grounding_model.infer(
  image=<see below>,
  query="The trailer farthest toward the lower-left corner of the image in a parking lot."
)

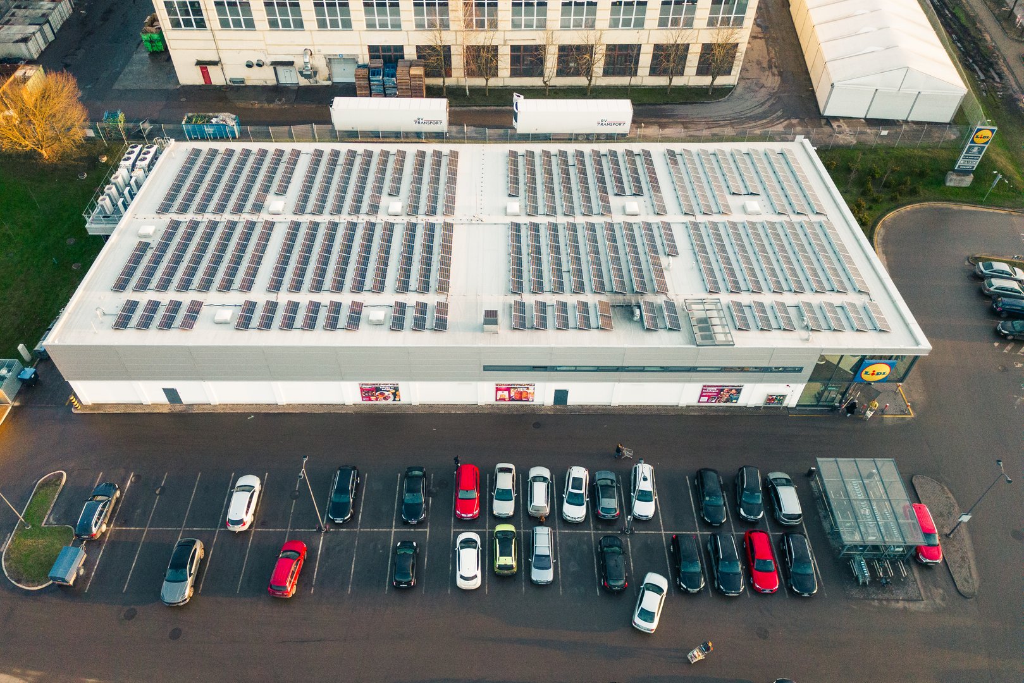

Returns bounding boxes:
[48,540,95,589]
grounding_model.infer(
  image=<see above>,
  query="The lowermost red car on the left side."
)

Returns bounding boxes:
[268,541,309,598]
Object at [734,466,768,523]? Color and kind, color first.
black car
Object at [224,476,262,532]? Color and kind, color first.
white car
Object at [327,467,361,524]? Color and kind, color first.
black car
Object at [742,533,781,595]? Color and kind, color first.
red car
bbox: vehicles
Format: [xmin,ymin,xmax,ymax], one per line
[527,529,558,586]
[159,540,204,607]
[993,318,1024,341]
[630,465,659,522]
[327,467,361,524]
[452,465,482,521]
[989,294,1024,320]
[398,466,428,525]
[72,484,119,539]
[592,472,622,519]
[708,534,747,597]
[672,537,708,594]
[899,505,943,567]
[766,472,803,526]
[779,534,821,598]
[632,572,670,635]
[742,533,781,595]
[391,541,420,589]
[973,261,1024,283]
[513,100,633,140]
[452,533,484,590]
[561,467,592,525]
[734,466,768,523]
[224,476,262,532]
[490,526,520,575]
[978,276,1024,299]
[525,468,554,517]
[268,541,309,598]
[329,97,449,140]
[489,463,519,518]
